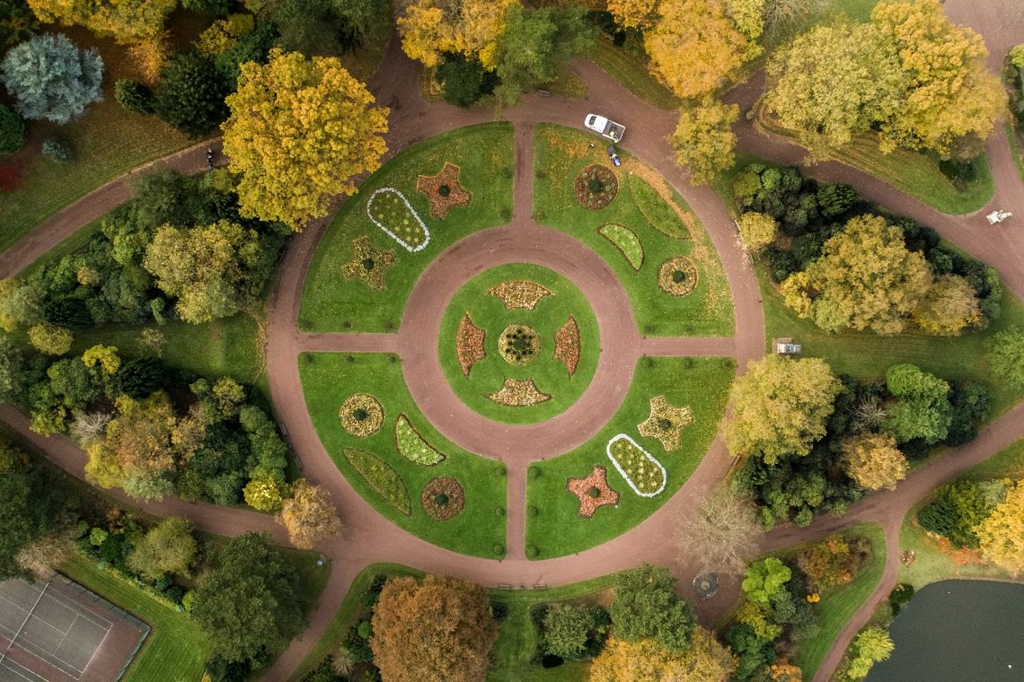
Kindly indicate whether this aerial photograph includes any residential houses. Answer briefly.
No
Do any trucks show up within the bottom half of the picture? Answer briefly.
No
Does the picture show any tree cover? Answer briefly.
Yes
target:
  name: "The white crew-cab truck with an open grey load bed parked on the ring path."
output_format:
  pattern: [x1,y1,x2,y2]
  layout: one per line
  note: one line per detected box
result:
[583,113,625,139]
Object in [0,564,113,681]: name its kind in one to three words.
tennis court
